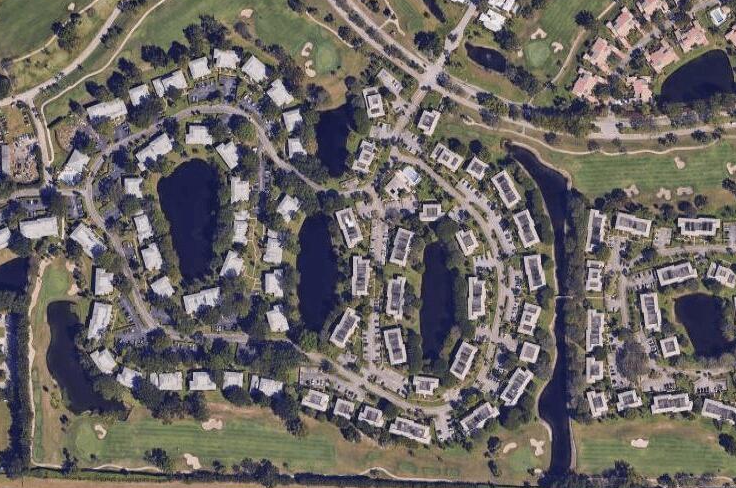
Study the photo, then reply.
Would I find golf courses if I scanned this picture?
Yes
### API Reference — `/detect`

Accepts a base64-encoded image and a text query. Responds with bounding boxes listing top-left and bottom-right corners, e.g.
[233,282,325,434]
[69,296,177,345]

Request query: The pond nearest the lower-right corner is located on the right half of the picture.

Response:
[675,293,729,357]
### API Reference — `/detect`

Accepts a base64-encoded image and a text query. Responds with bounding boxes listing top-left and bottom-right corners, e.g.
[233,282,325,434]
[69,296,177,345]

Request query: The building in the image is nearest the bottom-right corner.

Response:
[702,397,736,423]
